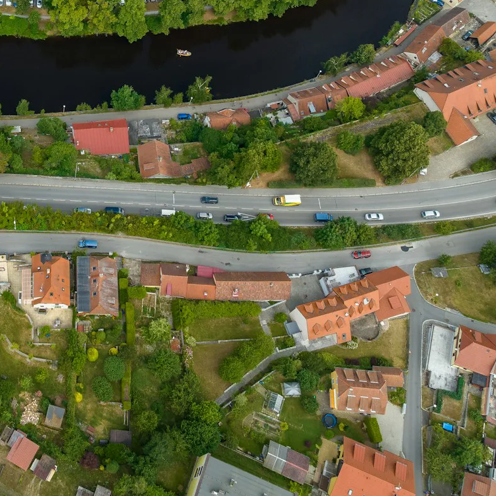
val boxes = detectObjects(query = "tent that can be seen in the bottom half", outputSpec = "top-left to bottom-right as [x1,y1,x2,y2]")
[278,380,301,400]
